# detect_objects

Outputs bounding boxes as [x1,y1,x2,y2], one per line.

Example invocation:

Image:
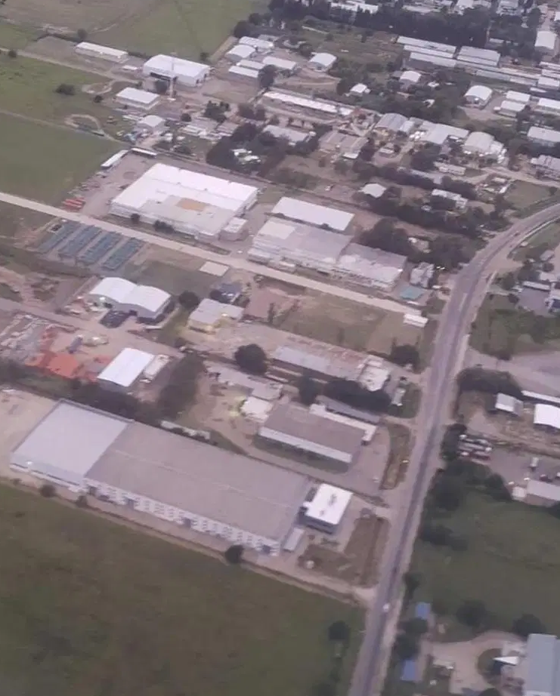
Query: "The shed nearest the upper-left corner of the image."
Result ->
[74,44,127,62]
